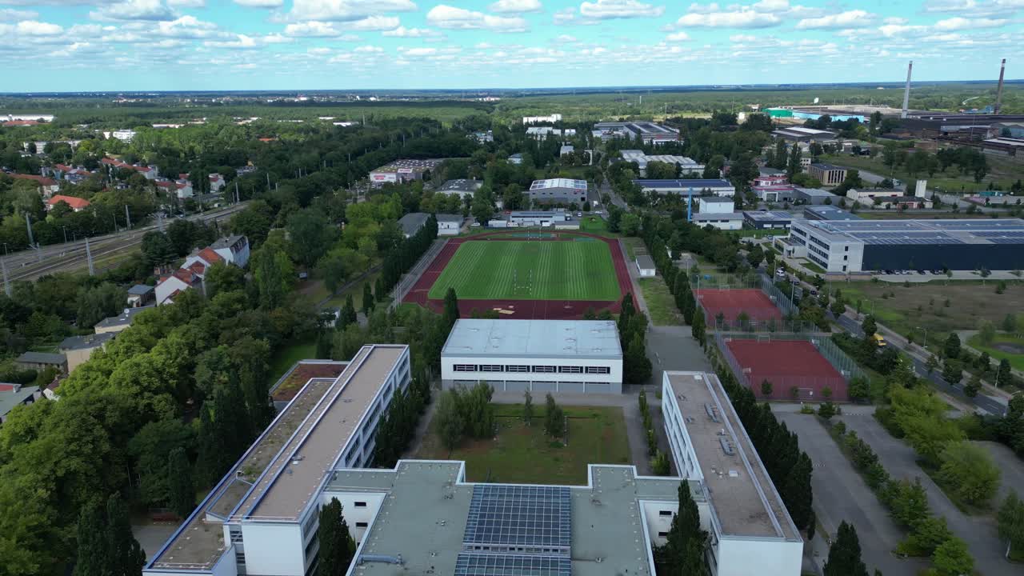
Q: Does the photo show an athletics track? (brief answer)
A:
Yes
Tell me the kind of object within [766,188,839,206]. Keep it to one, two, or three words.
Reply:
building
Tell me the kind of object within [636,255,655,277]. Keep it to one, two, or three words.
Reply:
shed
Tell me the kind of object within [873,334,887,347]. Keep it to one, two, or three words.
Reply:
vehicle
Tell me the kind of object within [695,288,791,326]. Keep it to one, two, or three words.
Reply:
sports court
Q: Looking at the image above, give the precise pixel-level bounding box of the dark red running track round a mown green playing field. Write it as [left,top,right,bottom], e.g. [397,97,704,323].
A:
[399,231,636,321]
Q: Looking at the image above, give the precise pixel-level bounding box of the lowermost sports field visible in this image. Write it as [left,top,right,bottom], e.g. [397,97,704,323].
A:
[429,241,622,300]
